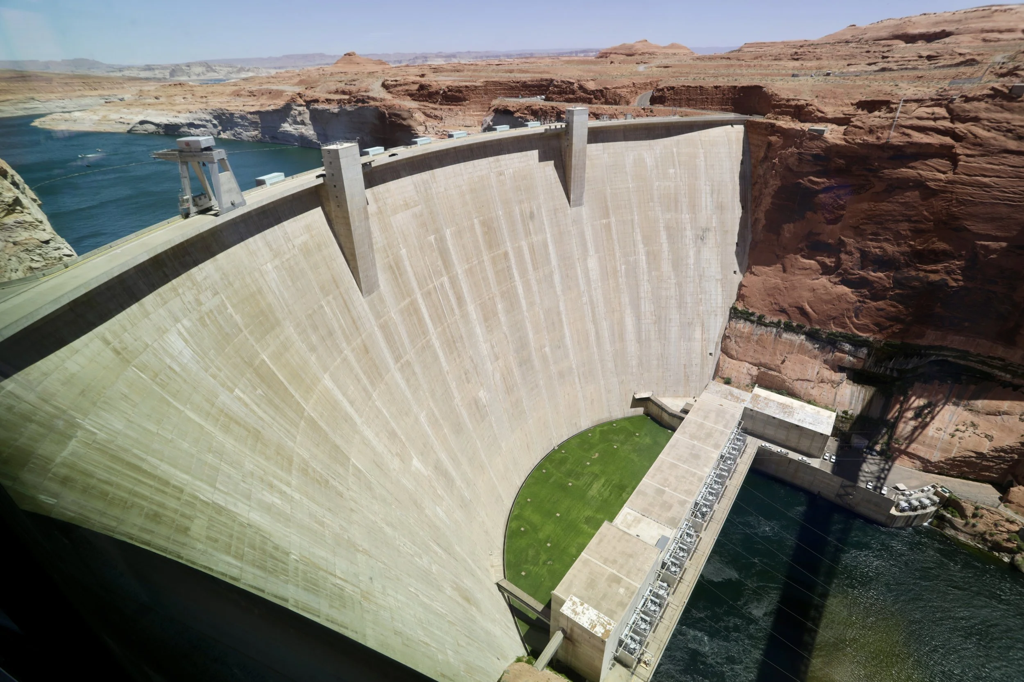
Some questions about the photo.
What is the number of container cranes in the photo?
one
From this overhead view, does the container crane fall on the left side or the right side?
left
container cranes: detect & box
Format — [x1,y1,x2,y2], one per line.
[141,131,249,218]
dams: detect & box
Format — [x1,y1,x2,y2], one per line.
[0,114,761,682]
